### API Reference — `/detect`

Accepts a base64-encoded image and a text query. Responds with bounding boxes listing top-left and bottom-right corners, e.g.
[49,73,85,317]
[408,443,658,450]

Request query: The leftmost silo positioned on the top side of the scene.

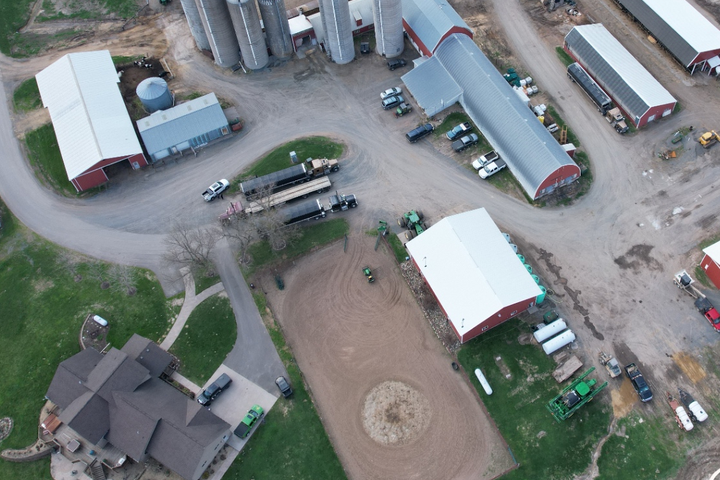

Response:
[131,77,171,115]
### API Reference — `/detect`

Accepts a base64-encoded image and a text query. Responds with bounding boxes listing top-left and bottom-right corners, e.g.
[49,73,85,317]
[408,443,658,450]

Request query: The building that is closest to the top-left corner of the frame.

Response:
[36,51,149,190]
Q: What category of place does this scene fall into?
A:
industrial area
